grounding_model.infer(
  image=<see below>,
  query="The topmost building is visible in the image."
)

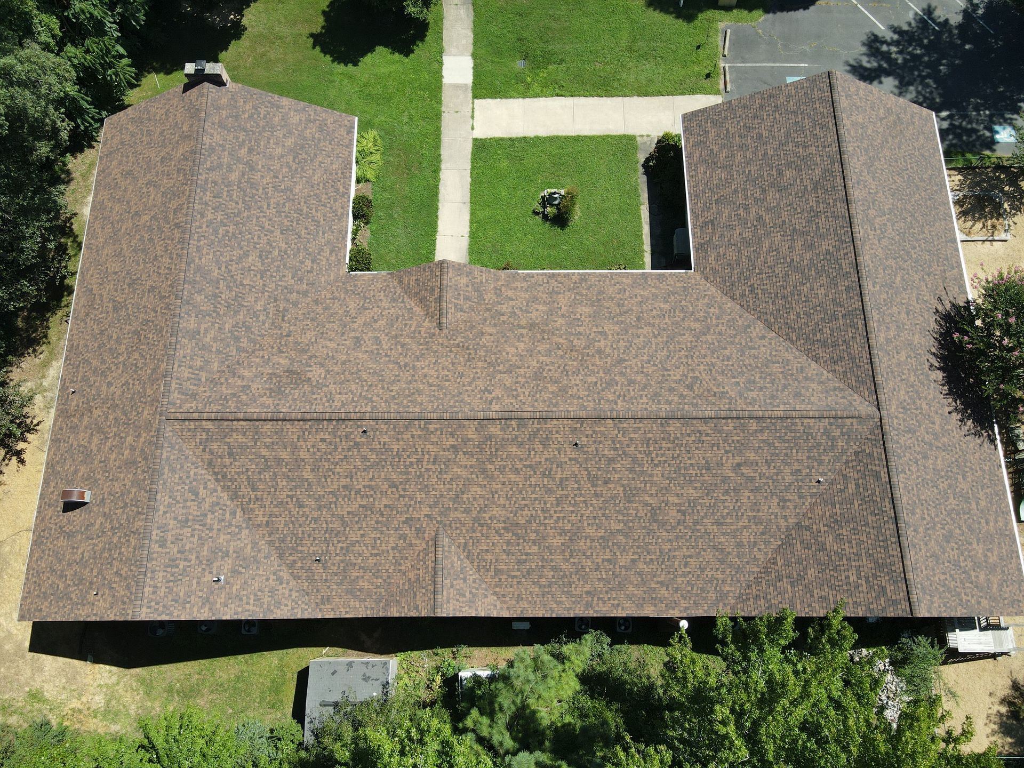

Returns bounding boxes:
[15,58,1024,620]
